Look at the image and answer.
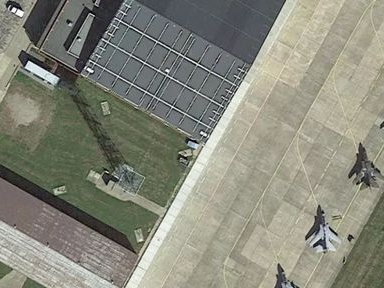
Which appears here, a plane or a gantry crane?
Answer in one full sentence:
The one in the frame is a plane.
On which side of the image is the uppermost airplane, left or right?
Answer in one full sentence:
It is on the right.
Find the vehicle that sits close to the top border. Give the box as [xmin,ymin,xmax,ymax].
[8,4,25,18]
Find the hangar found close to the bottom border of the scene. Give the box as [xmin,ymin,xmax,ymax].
[0,177,136,288]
